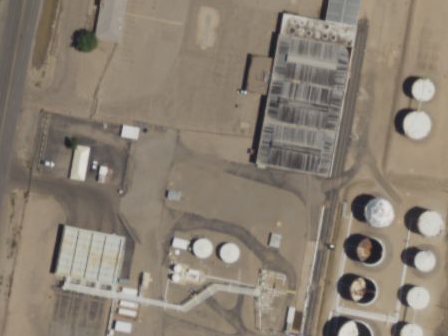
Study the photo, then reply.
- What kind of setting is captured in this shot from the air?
industrial area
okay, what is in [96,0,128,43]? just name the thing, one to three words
building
